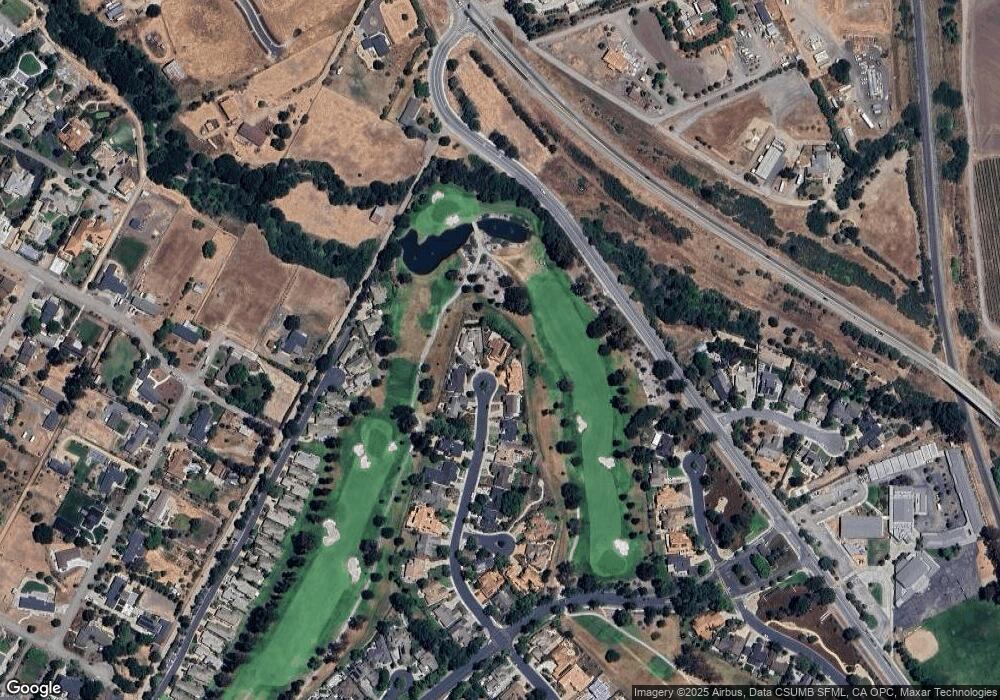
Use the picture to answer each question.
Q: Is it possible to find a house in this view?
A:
Yes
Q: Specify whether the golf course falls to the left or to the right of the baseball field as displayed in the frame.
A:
to the left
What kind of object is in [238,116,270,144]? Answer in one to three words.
barn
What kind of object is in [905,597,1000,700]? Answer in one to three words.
baseball field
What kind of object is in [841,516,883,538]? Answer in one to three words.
building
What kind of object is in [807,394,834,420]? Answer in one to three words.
house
